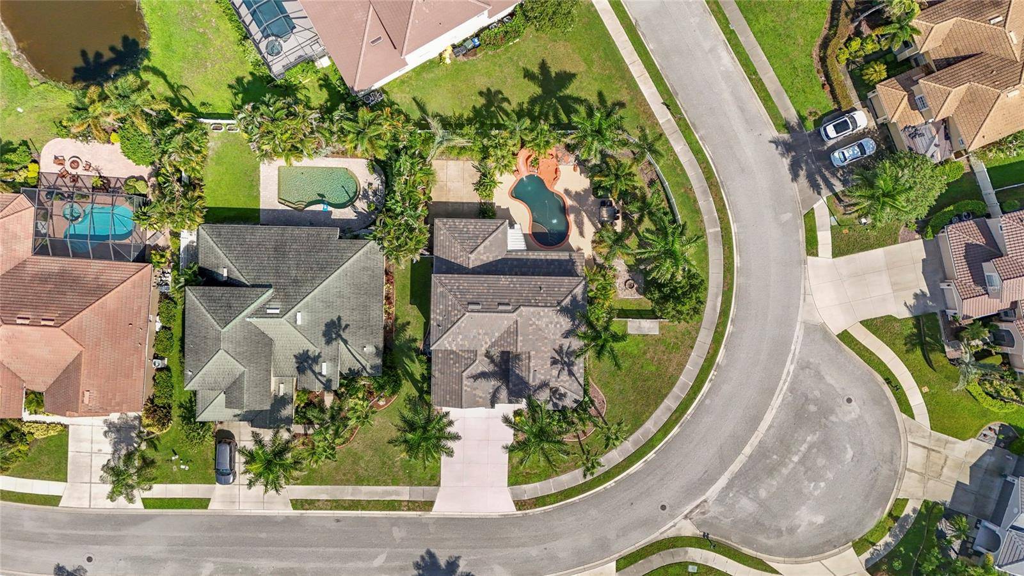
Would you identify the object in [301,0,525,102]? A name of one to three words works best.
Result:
house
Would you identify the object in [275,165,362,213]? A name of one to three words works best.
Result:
swimming pool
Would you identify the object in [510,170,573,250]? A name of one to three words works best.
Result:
swimming pool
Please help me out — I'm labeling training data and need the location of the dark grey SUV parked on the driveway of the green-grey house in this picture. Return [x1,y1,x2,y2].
[214,437,239,483]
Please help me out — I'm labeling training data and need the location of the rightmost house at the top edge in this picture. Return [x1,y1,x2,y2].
[867,0,1024,156]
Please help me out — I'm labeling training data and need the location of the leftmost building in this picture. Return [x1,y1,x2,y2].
[0,193,160,419]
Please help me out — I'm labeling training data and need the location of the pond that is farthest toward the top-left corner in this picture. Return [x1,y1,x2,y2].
[2,0,144,84]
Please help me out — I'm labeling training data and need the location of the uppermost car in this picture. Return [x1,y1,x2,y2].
[817,113,866,142]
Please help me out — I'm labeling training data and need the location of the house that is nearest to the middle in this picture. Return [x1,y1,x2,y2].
[429,218,588,411]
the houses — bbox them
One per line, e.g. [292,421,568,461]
[975,469,1024,576]
[183,224,384,428]
[867,0,1024,156]
[0,193,160,419]
[429,218,588,411]
[301,0,525,102]
[933,210,1024,405]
